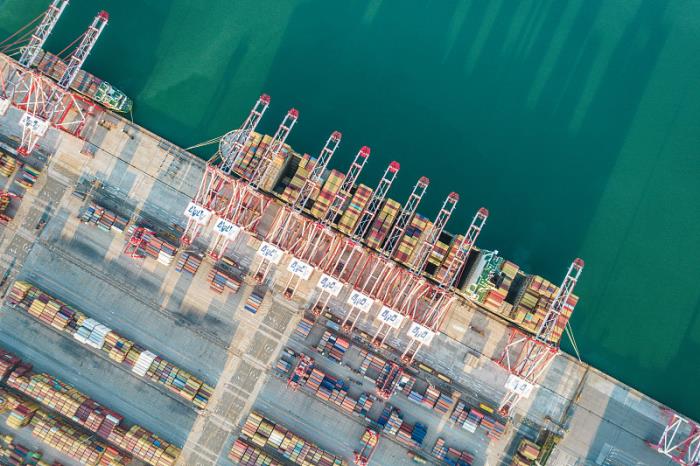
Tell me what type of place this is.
port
